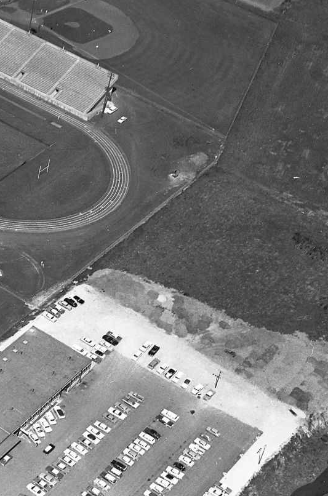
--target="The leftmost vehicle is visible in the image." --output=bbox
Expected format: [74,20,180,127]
[0,453,14,467]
